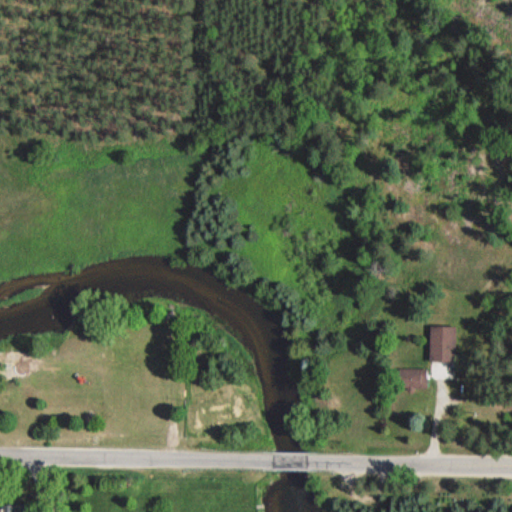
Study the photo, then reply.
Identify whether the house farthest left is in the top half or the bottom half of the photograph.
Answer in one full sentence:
The bottom half of the photo is where the house farthest left is.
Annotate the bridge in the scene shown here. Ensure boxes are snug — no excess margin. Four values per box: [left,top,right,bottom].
[272,451,312,472]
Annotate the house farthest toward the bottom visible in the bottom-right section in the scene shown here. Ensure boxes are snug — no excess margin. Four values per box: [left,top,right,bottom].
[402,368,426,394]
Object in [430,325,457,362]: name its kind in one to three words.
building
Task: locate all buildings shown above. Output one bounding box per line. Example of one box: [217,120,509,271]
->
[402,368,426,394]
[430,325,457,362]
